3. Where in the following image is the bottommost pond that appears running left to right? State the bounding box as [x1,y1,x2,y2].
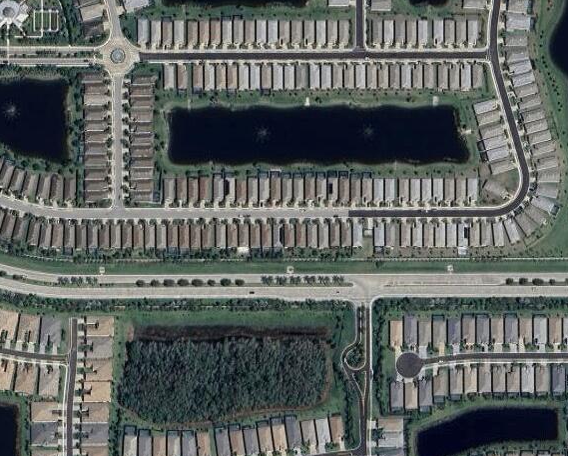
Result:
[417,407,558,456]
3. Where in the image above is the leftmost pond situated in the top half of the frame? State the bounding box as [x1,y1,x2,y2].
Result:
[0,80,69,160]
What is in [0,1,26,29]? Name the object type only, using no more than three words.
building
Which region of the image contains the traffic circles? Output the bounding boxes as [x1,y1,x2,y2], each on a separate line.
[94,34,142,79]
